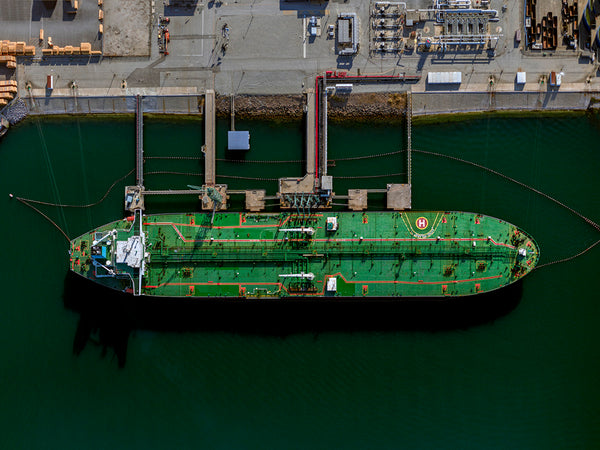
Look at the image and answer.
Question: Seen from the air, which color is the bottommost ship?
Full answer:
The bottommost ship looks green in the image.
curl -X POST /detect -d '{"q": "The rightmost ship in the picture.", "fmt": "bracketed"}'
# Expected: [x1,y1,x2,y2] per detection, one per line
[67,209,540,298]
